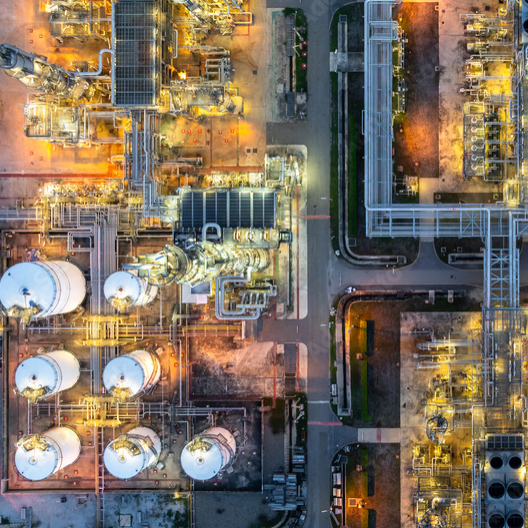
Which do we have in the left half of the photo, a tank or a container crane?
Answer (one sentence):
The feature located in the left half of the photo is a tank.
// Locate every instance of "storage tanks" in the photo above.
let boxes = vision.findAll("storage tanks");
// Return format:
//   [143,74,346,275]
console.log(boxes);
[14,347,83,402]
[102,416,167,479]
[180,418,239,480]
[0,259,87,322]
[103,270,162,313]
[14,426,83,481]
[102,347,166,402]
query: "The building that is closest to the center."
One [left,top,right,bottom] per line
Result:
[183,283,216,305]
